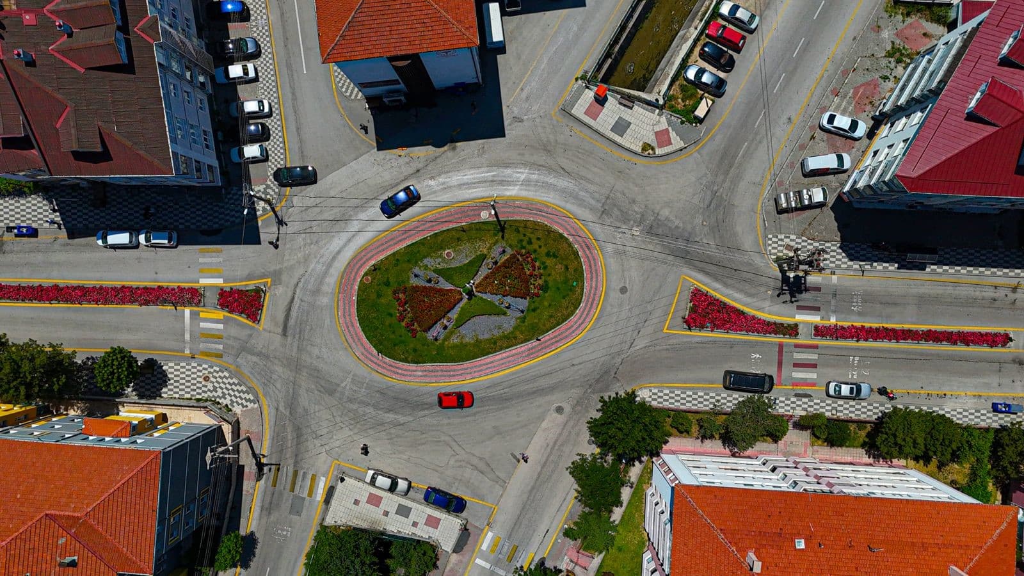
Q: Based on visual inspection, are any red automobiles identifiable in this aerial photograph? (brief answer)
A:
Yes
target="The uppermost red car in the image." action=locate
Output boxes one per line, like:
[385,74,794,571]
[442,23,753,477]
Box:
[702,22,749,54]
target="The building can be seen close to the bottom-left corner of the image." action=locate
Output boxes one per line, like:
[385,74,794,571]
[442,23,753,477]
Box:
[0,401,222,576]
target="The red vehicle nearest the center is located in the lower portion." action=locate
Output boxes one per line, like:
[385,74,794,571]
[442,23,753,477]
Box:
[437,390,473,410]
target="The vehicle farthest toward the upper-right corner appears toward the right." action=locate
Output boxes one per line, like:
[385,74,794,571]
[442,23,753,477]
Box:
[815,110,866,142]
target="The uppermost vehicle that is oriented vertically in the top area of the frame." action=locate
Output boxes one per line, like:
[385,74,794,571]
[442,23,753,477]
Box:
[482,0,504,54]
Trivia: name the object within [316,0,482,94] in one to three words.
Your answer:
building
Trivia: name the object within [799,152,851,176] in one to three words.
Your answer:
vehicle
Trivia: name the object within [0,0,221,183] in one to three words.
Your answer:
building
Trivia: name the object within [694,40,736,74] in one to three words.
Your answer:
car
